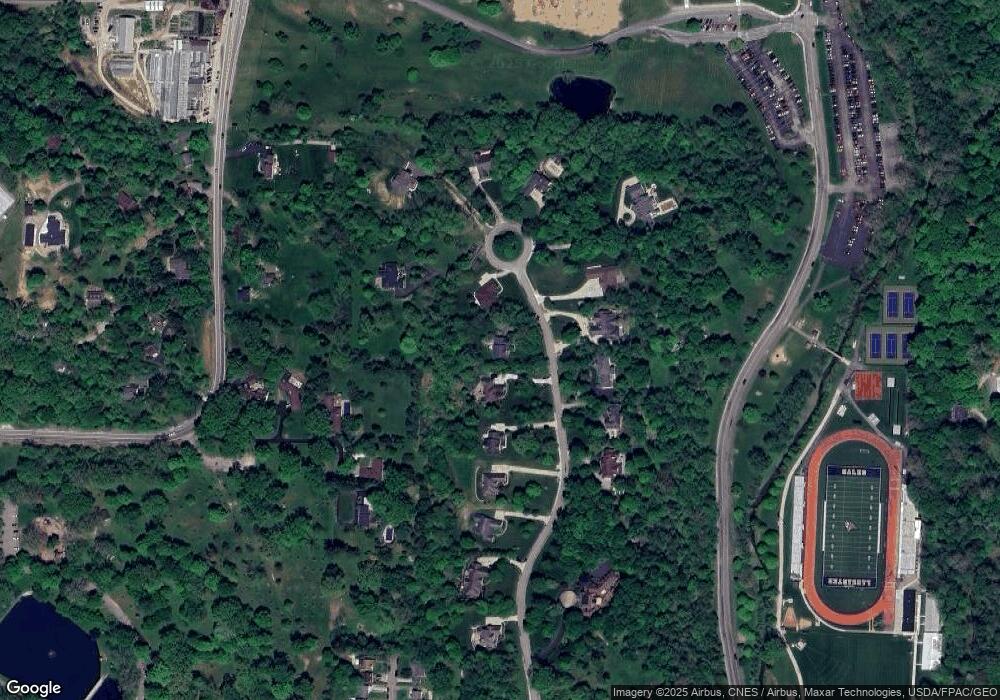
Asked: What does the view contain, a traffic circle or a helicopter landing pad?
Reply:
traffic circle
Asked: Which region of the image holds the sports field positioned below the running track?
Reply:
bottom right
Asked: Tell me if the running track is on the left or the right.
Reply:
right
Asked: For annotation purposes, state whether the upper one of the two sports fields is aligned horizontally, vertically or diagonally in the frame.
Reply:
vertically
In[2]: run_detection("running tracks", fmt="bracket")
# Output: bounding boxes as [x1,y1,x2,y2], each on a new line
[804,430,901,633]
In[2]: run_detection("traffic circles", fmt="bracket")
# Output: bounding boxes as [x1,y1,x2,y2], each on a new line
[485,222,533,270]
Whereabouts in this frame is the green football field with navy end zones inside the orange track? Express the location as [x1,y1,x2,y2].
[814,440,889,613]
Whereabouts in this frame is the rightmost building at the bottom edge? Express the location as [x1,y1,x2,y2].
[924,633,944,671]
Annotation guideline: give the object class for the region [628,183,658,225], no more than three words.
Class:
house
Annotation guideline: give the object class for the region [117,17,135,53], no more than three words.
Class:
barn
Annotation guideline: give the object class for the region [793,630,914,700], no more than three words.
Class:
sports field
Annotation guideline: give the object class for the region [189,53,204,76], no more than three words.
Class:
greenhouse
